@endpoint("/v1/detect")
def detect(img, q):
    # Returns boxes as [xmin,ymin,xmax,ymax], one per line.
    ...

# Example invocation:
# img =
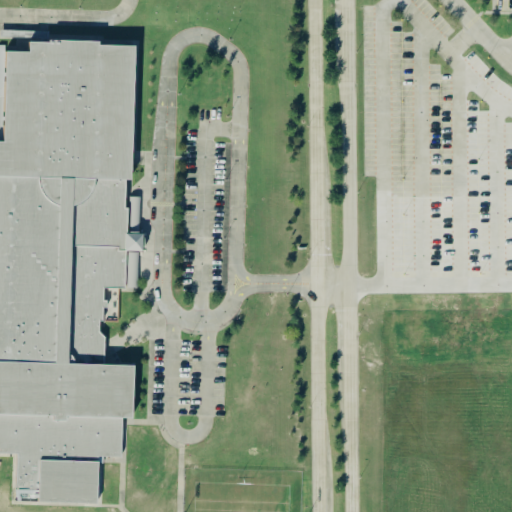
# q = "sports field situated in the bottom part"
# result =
[186,470,301,512]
